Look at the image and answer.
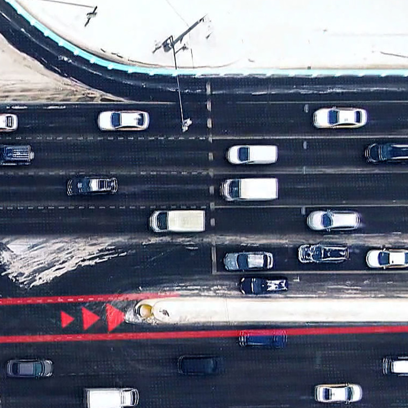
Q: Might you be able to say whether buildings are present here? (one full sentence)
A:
No, there's no building here.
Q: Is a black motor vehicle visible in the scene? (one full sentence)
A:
Yes, there's a black motor vehicle here.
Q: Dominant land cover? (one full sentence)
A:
What you mostly see from above here is paved ground.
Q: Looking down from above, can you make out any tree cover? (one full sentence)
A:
No, tree cover can't be seen anywhere here.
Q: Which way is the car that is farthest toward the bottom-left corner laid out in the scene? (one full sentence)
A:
Seen from above, the car that is farthest toward the bottom-left corner lies from side to side.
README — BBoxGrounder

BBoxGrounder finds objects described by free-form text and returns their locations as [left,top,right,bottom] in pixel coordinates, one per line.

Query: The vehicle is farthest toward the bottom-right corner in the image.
[380,356,408,377]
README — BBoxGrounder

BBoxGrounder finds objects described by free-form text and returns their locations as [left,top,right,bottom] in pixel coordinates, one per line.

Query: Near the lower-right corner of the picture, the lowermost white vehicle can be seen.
[313,383,362,405]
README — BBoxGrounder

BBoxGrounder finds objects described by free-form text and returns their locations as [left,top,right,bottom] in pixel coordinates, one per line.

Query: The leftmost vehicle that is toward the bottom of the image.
[6,357,54,380]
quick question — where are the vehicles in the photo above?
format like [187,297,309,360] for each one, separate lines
[361,142,408,164]
[304,209,362,231]
[295,242,350,265]
[218,177,281,202]
[6,357,54,380]
[364,248,408,269]
[313,383,362,405]
[66,175,117,198]
[0,143,35,166]
[236,328,287,350]
[312,107,367,128]
[380,356,408,377]
[222,250,274,272]
[237,275,289,296]
[82,386,138,408]
[224,143,281,165]
[0,114,17,133]
[148,209,209,233]
[96,110,149,131]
